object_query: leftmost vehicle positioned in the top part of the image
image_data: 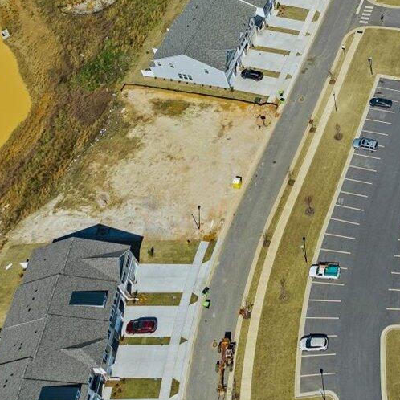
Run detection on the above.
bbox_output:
[240,67,263,79]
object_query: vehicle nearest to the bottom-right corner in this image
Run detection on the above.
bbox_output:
[298,333,330,350]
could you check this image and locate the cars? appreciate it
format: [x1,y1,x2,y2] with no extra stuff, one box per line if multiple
[298,333,330,350]
[353,137,379,150]
[240,67,263,79]
[125,316,157,333]
[369,93,394,107]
